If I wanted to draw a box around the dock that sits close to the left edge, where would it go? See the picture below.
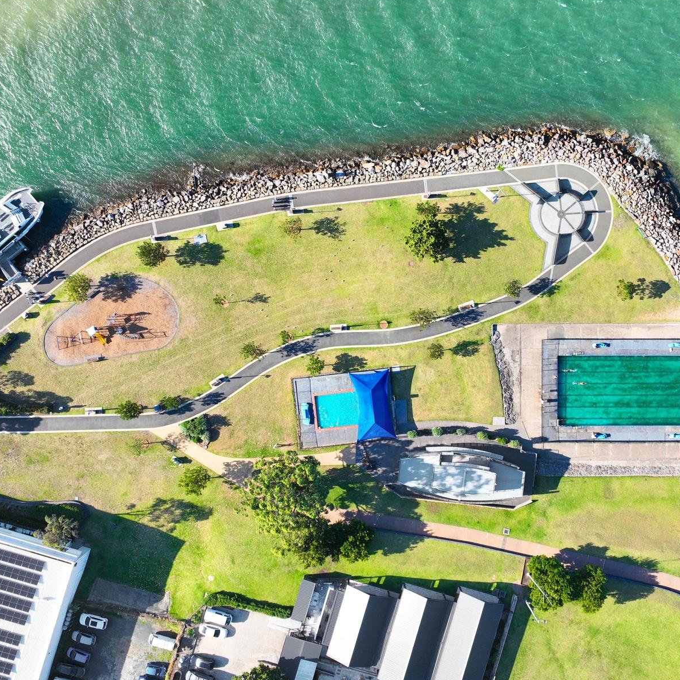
[0,238,33,291]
